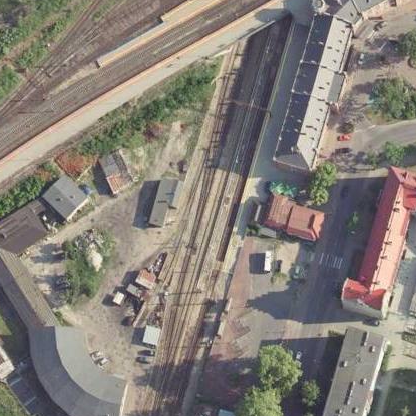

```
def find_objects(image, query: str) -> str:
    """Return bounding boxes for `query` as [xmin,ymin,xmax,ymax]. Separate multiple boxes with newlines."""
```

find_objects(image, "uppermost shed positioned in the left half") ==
[100,150,132,194]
